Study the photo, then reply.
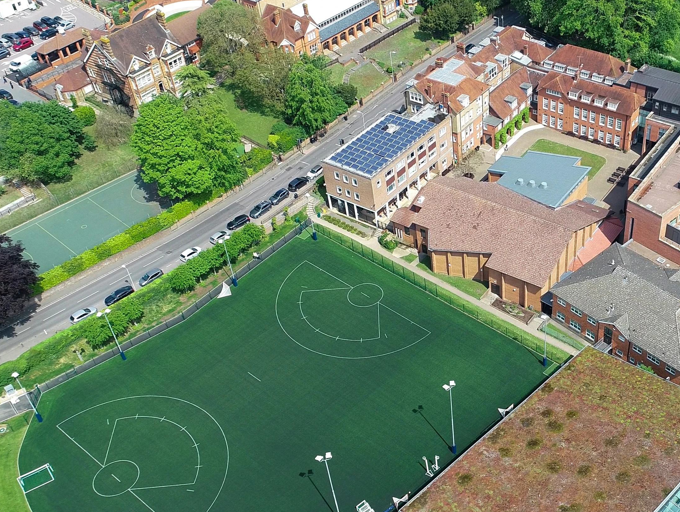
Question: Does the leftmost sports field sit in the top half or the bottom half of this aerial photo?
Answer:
bottom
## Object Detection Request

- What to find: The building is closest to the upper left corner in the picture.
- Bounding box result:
[0,0,32,18]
